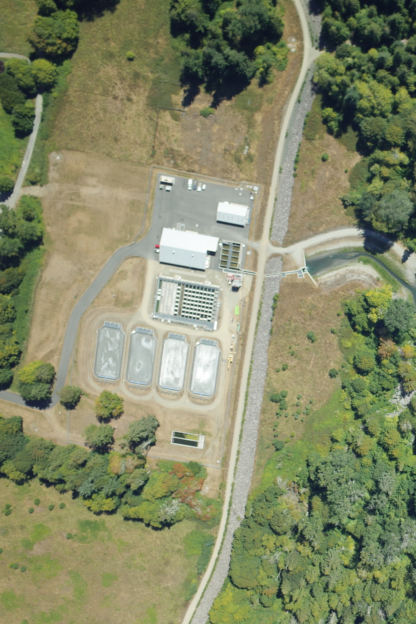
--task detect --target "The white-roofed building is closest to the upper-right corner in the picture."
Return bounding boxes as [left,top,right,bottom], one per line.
[216,202,247,226]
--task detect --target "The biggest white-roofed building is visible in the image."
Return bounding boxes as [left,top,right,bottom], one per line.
[159,227,219,269]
